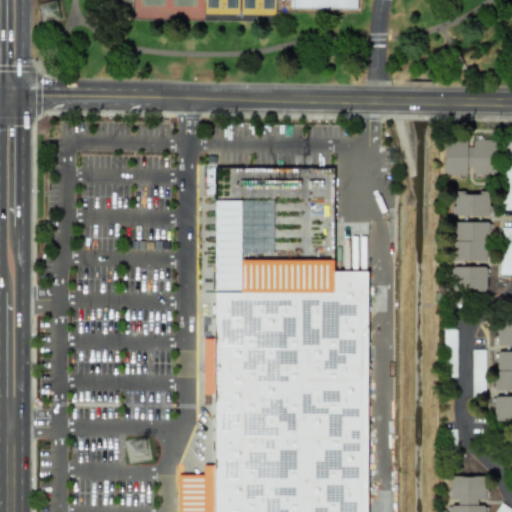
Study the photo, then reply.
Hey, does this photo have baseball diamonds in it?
No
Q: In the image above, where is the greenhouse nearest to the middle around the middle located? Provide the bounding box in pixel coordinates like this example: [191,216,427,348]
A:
[243,200,274,253]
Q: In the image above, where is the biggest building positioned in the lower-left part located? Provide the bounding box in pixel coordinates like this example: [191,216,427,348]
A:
[125,439,152,466]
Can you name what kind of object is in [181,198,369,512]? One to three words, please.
building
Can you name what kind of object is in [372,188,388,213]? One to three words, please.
vehicle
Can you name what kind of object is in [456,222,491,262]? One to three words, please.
building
